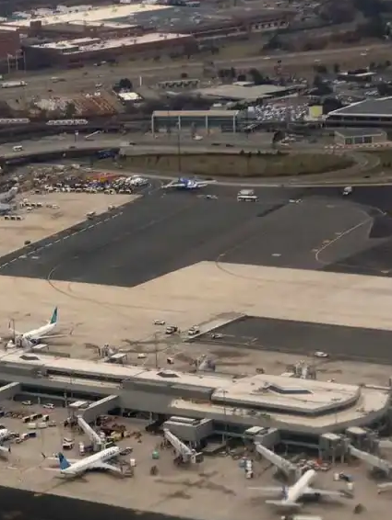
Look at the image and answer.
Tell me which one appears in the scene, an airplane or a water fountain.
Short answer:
airplane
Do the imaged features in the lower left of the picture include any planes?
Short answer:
Yes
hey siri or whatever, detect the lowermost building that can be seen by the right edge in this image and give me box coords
[335,127,390,151]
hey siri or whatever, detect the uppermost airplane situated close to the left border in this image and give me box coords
[6,310,69,348]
